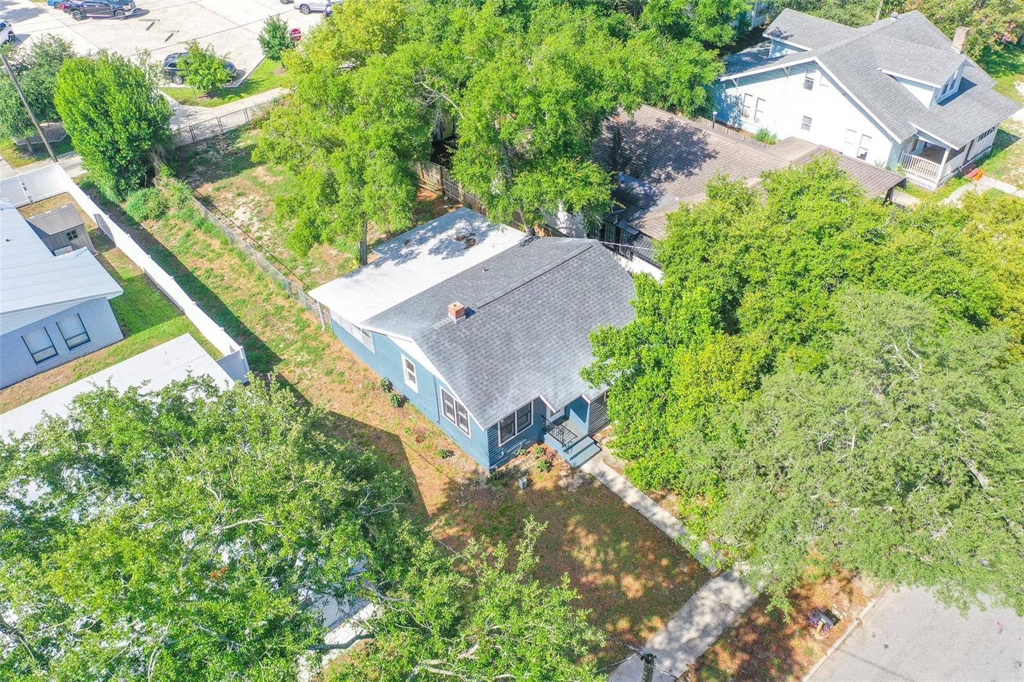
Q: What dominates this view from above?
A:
trees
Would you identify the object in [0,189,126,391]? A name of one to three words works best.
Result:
house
